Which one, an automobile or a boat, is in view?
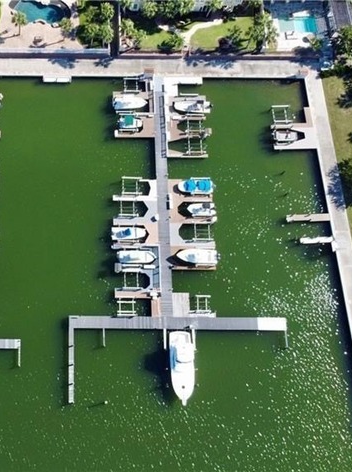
boat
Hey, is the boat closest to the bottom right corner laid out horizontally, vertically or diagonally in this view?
vertically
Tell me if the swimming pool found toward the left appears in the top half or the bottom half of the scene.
top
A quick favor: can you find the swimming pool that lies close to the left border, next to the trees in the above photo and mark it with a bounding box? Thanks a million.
[11,0,71,25]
